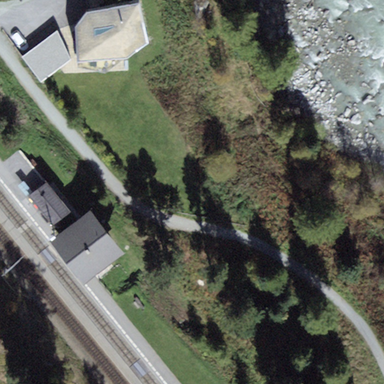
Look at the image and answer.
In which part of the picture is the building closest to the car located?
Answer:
top left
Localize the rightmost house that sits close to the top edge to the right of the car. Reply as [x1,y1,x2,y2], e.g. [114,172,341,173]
[76,0,148,70]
